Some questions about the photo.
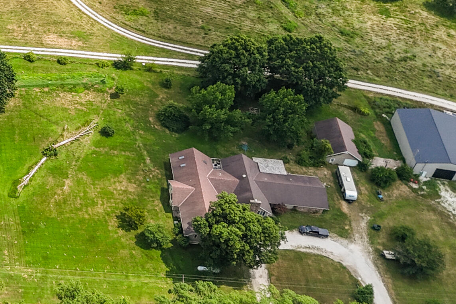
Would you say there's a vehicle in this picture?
Yes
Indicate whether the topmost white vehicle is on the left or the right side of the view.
right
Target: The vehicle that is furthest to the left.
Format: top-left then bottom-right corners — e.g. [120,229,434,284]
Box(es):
[296,222,330,238]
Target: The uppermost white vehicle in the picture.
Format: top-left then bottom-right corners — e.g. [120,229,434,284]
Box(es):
[336,164,360,205]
